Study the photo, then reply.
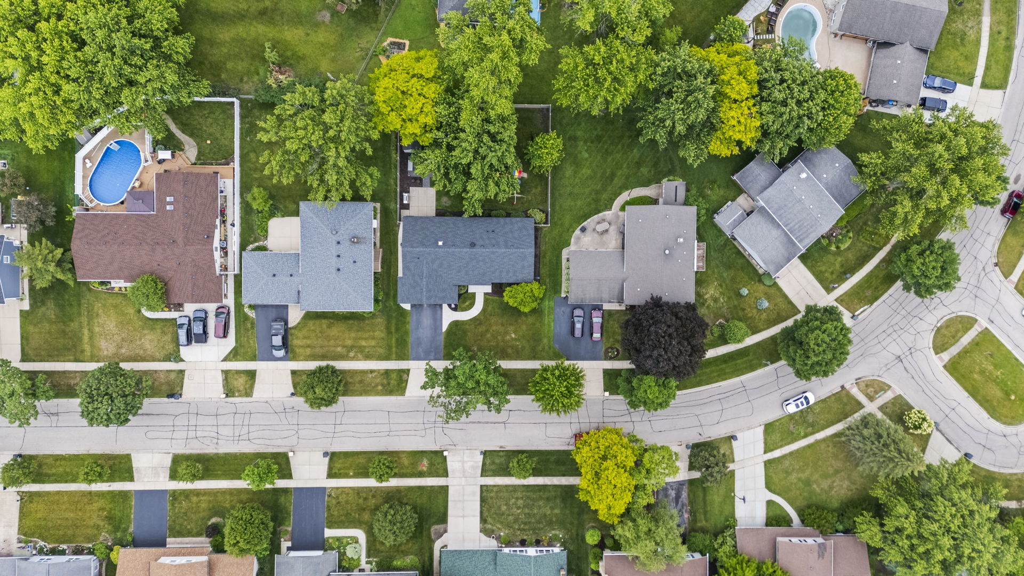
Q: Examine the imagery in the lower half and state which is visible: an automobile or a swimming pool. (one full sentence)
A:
There is an automobile in the lower half.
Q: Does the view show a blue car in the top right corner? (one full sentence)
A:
Yes, a blue car can be seen in the top right corner.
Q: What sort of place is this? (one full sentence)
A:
The area seen from above is a residential area.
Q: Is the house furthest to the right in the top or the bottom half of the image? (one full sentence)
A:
Seen from above, the house furthest to the right lies in the top half of the view.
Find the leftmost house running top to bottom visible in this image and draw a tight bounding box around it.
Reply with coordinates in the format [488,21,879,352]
[0,234,31,305]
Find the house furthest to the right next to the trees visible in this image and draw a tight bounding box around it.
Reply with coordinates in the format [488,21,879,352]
[824,0,950,108]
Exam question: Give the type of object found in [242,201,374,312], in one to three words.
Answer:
house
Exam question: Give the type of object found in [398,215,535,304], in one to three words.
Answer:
house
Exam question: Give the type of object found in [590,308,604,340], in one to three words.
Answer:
car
